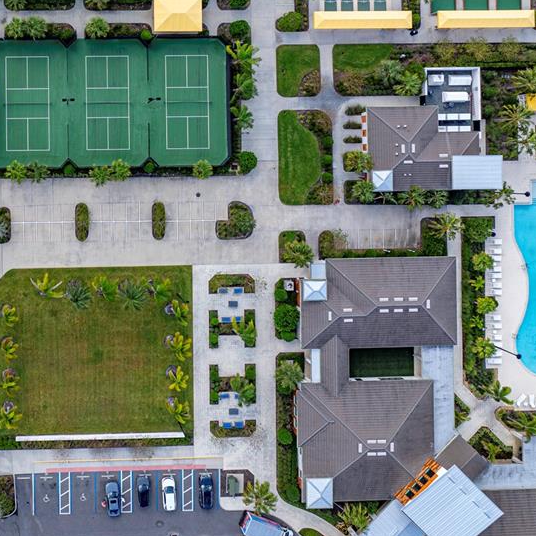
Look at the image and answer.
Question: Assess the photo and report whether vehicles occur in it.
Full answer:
Yes, the photo shows a vehicle.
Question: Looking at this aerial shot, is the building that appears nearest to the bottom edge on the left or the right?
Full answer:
It is on the right.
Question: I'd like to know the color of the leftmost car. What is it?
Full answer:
The leftmost car looks blue in the image.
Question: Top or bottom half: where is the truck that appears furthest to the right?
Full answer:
It is in the bottom half that the truck that appears furthest to the right appears.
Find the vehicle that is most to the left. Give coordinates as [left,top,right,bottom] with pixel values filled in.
[99,478,126,514]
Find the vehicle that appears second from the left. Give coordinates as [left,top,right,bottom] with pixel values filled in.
[136,473,152,506]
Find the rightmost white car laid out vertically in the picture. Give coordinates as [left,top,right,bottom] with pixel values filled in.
[162,473,178,509]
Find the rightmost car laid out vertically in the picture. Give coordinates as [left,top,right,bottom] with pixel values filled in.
[198,470,215,508]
